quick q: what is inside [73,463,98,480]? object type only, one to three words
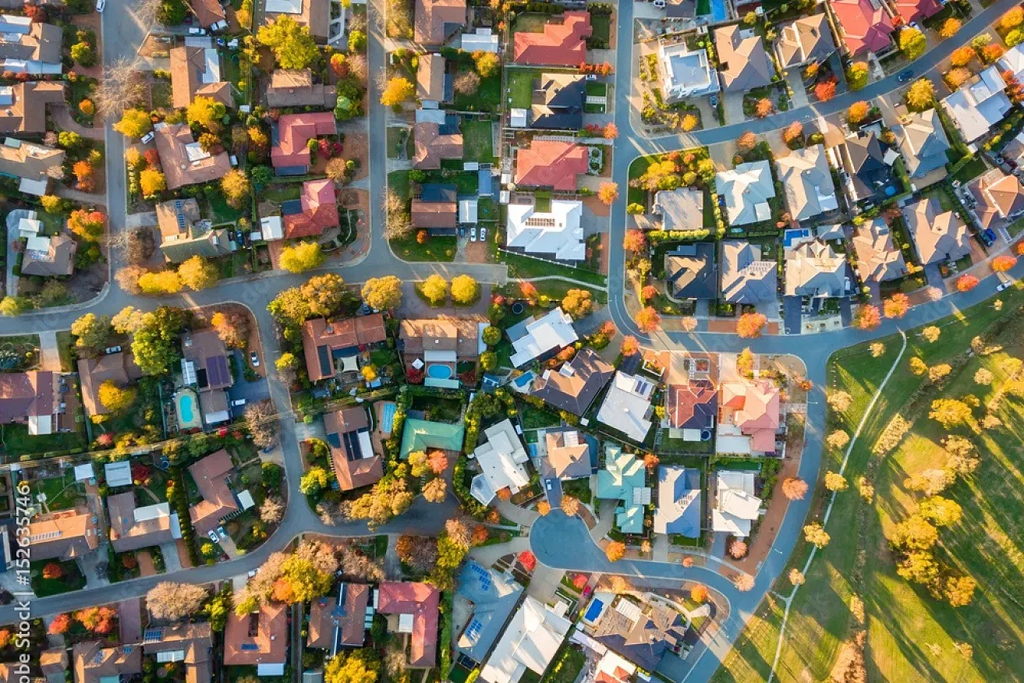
shed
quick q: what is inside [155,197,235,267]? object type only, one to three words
house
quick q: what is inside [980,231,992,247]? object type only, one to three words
vehicle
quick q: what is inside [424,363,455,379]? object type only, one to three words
swimming pool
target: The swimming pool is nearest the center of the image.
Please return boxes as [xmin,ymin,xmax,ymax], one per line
[511,370,536,395]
